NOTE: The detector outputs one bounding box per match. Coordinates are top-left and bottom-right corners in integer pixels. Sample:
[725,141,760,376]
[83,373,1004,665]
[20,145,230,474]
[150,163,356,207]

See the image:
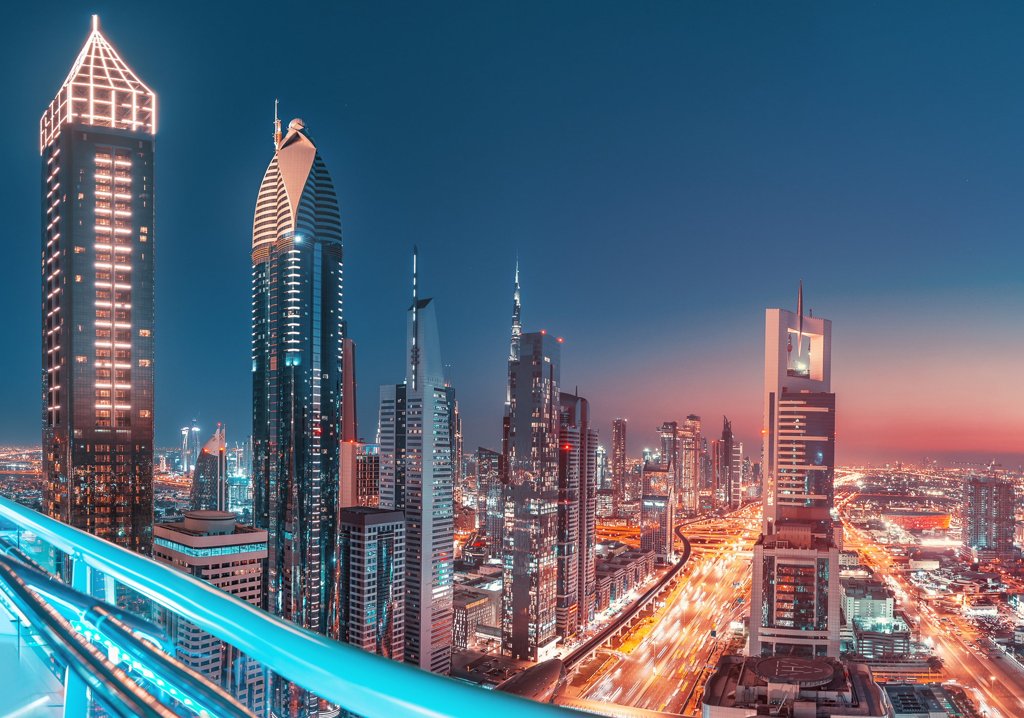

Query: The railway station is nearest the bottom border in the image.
[498,663,573,704]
